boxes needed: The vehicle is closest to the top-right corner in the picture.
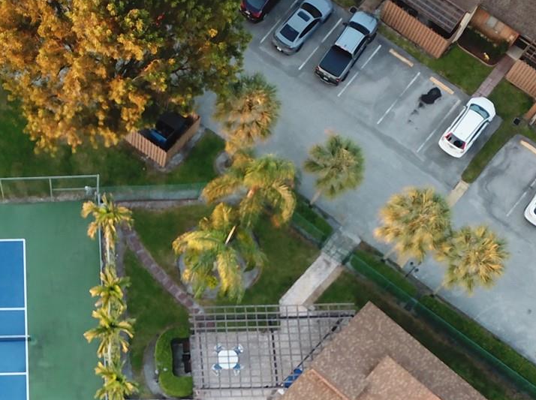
[439,95,497,160]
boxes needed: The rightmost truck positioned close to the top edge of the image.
[312,9,382,84]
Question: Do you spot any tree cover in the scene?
Yes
